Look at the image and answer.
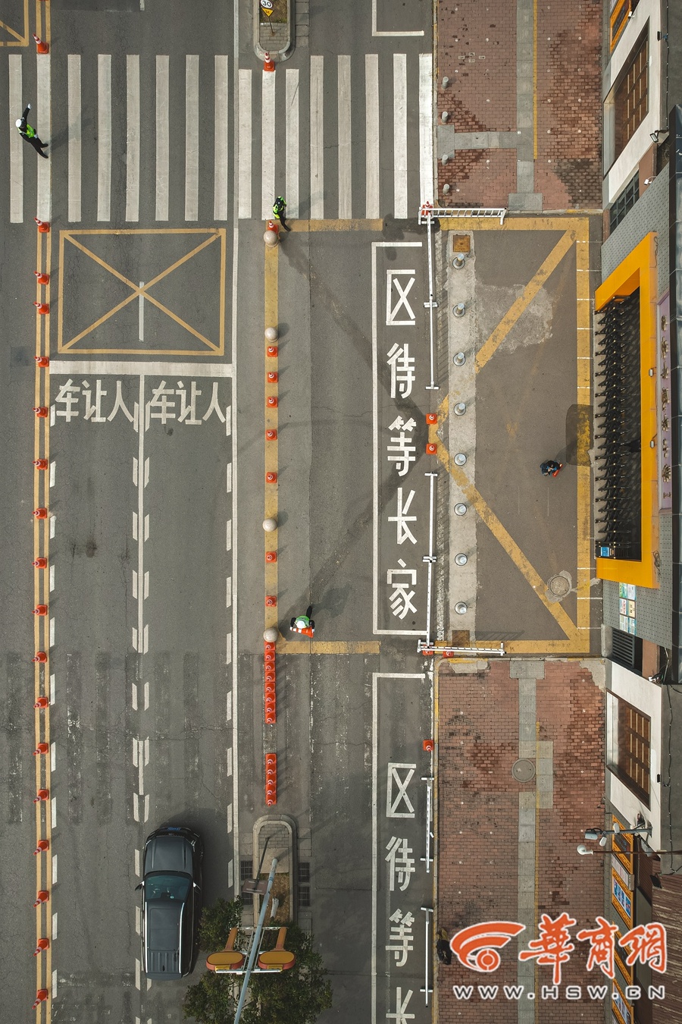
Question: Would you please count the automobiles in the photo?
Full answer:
Altogether the scene contains 1 automobile.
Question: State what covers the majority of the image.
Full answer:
Most of the picture is covered by paved ground.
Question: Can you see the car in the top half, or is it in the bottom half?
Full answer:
The bottom half of the photo is where the car is.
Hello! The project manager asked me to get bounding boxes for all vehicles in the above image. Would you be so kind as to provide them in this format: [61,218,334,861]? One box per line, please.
[136,823,203,975]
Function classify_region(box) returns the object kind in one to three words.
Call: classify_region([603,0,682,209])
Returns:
building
